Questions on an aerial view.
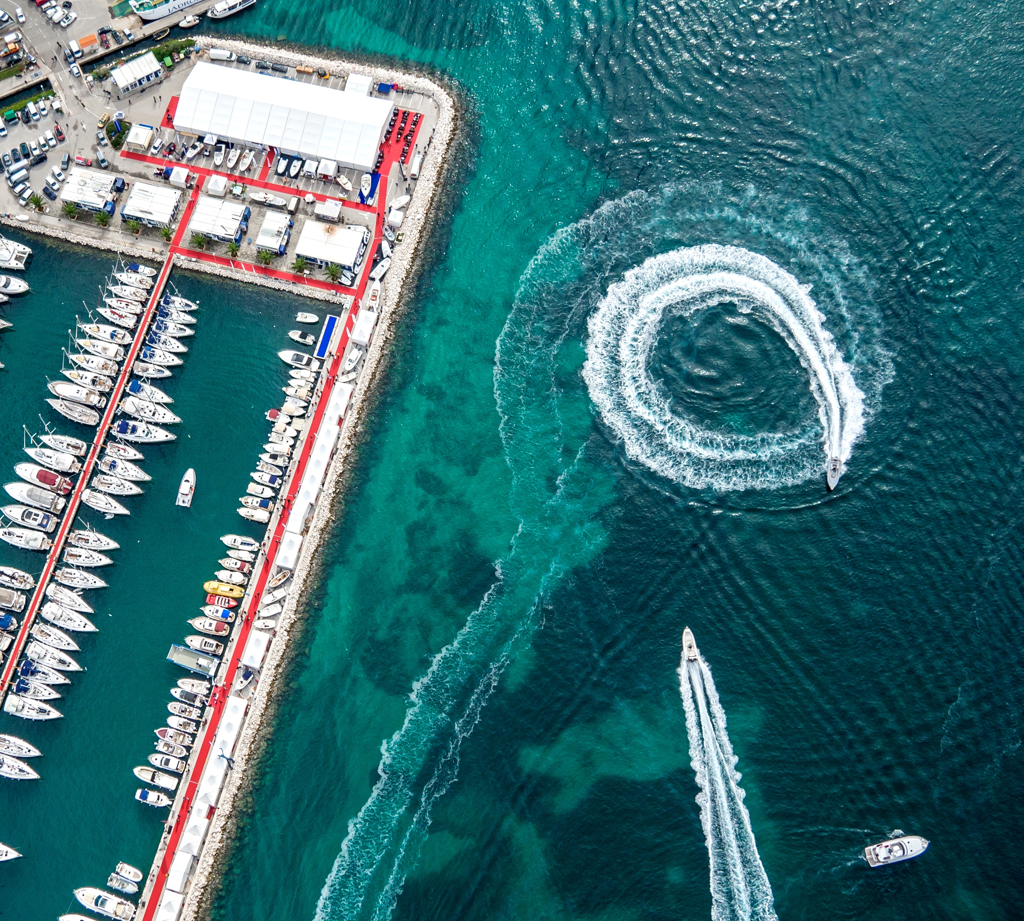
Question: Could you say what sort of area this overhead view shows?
port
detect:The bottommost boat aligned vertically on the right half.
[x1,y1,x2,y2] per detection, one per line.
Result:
[684,626,697,662]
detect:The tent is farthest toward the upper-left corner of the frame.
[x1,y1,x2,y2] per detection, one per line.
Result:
[127,126,153,149]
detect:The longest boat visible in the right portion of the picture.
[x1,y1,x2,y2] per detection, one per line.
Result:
[860,837,932,868]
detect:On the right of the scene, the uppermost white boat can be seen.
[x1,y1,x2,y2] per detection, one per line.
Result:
[828,457,840,490]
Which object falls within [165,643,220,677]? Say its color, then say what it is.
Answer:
white ship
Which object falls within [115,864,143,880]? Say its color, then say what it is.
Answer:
white boat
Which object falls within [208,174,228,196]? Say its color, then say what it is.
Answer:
white tent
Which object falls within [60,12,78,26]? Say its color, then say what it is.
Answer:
white car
